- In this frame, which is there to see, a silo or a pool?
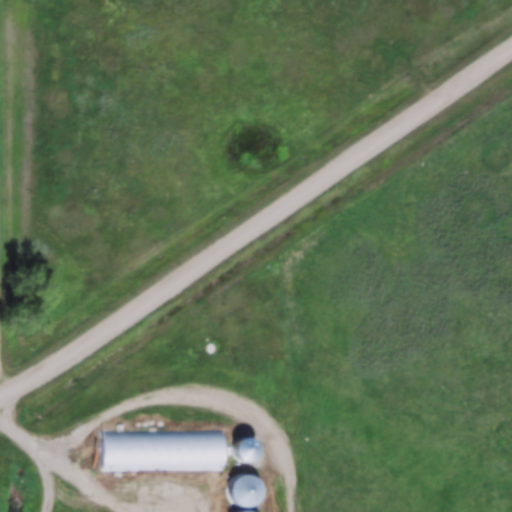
silo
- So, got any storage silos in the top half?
No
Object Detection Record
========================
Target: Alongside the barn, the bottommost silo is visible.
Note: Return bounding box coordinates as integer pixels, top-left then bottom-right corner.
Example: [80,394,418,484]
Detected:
[228,472,266,510]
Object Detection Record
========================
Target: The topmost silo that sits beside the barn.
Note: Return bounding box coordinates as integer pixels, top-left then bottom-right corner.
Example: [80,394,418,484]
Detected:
[232,436,264,464]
